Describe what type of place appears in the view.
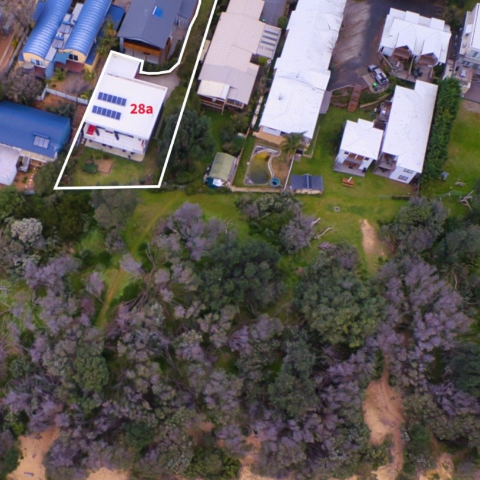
residential area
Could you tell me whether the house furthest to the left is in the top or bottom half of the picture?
top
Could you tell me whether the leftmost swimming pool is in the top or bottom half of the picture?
top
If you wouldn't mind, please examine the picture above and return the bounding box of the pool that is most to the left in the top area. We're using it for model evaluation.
[244,145,280,185]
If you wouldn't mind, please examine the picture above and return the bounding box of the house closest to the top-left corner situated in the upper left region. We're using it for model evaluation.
[19,0,126,87]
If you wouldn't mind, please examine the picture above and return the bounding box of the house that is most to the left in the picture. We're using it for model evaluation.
[0,104,71,186]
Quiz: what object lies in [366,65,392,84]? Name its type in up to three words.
car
